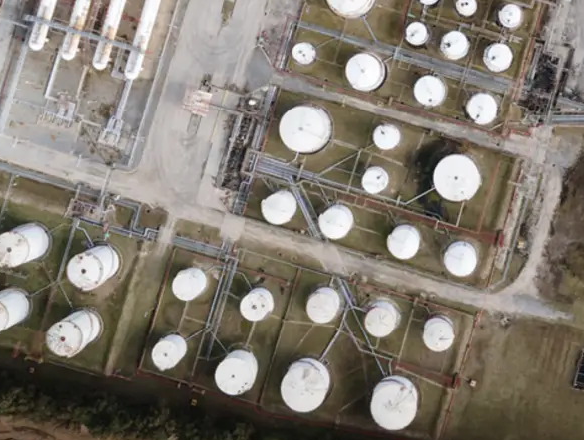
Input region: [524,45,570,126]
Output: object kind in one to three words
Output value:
building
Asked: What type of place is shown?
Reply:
industrial area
